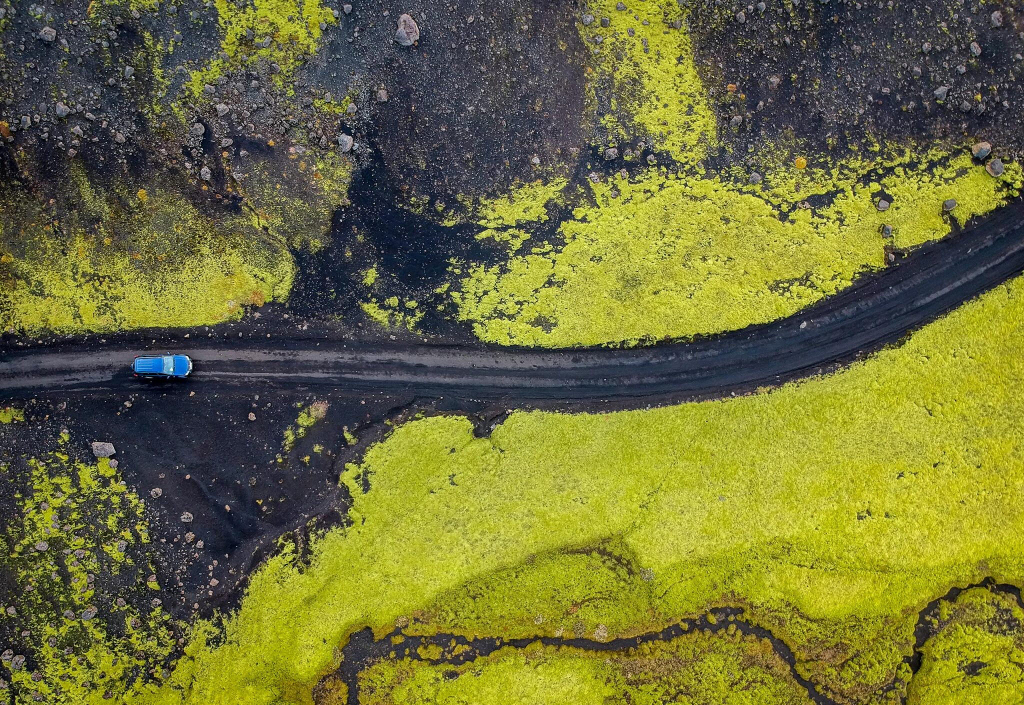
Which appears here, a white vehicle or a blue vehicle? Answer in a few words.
blue vehicle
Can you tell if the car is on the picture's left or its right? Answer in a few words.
left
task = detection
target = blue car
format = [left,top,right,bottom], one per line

[130,352,193,379]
